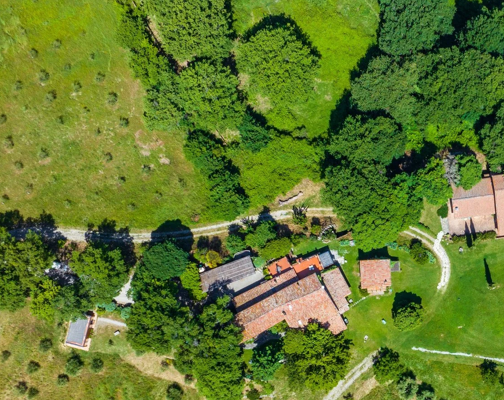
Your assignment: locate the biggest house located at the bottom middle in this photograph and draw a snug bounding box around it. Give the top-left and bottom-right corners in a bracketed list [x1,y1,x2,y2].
[234,253,352,347]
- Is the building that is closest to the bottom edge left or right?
left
